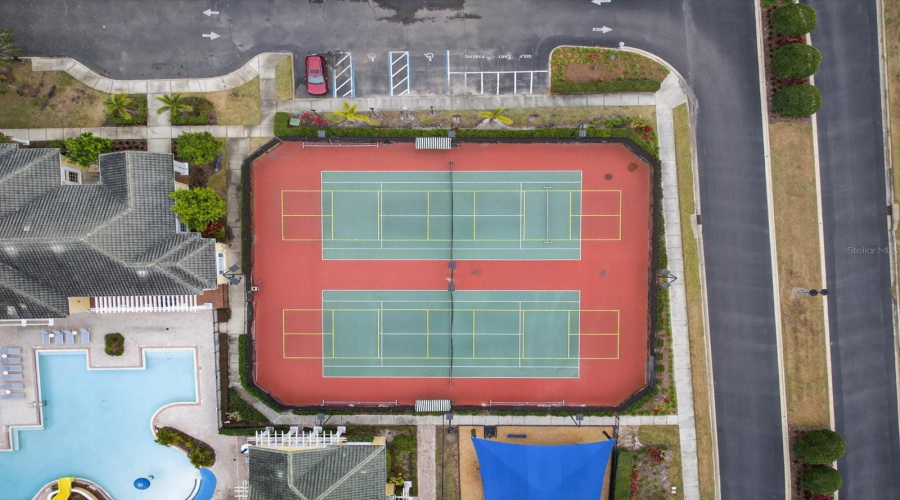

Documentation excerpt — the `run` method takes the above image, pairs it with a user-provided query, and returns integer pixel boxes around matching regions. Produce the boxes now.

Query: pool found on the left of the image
[0,344,200,500]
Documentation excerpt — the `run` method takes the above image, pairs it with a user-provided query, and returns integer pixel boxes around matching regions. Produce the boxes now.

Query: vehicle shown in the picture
[306,56,330,97]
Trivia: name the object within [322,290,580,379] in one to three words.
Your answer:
tennis court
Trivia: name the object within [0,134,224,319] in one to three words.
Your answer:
building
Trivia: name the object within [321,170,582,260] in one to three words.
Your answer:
tennis court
